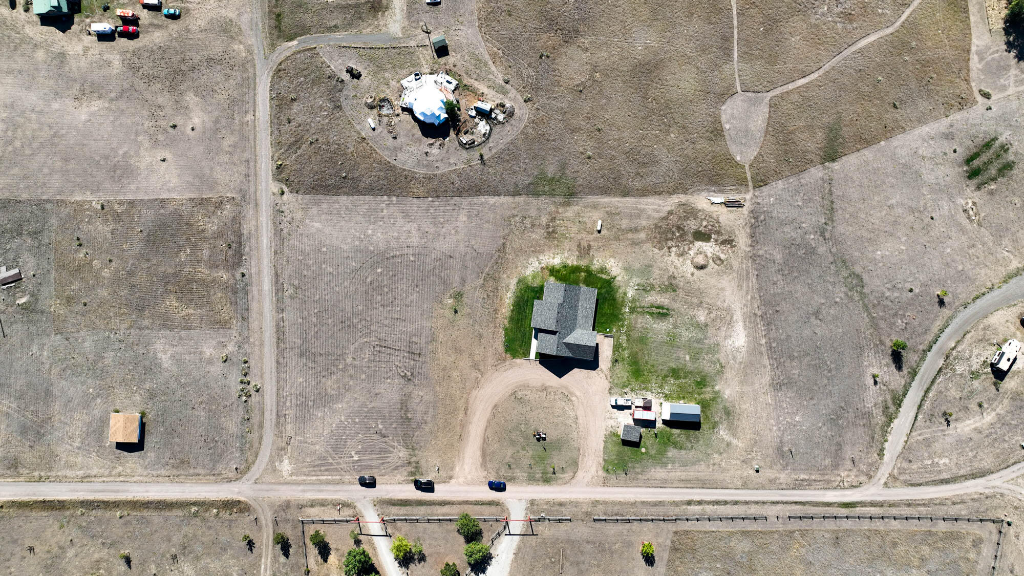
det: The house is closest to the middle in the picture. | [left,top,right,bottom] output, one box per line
[530,282,598,360]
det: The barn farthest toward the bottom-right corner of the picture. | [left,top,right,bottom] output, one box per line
[660,404,702,423]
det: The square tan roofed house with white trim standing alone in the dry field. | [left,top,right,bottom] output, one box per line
[110,412,145,443]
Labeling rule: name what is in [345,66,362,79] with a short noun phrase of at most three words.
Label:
vehicle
